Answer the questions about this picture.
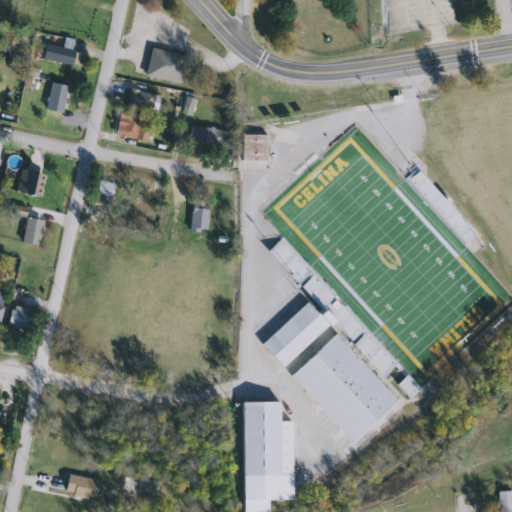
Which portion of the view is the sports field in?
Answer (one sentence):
You can find the sports field in the right area of the picture.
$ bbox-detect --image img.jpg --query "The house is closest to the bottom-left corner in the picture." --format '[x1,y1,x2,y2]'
[66,474,98,500]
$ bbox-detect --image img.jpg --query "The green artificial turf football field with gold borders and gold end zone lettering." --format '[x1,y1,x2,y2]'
[260,124,512,384]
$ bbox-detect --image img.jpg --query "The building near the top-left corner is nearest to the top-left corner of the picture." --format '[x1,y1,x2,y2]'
[45,37,76,65]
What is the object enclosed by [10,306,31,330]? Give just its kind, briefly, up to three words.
house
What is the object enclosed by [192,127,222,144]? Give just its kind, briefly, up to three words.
house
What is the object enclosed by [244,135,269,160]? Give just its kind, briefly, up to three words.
building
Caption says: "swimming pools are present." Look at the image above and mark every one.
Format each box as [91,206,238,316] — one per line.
[6,154,22,174]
